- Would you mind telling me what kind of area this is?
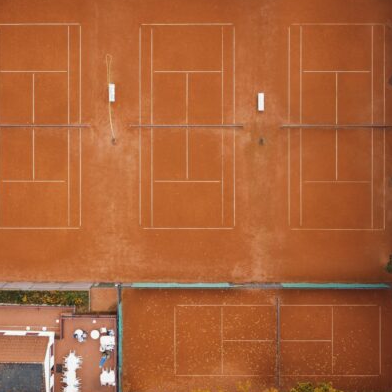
sports ground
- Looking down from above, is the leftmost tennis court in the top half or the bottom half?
top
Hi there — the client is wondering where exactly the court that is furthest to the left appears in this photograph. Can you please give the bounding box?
[0,24,80,229]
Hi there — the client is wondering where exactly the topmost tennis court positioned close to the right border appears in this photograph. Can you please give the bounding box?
[289,23,384,230]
